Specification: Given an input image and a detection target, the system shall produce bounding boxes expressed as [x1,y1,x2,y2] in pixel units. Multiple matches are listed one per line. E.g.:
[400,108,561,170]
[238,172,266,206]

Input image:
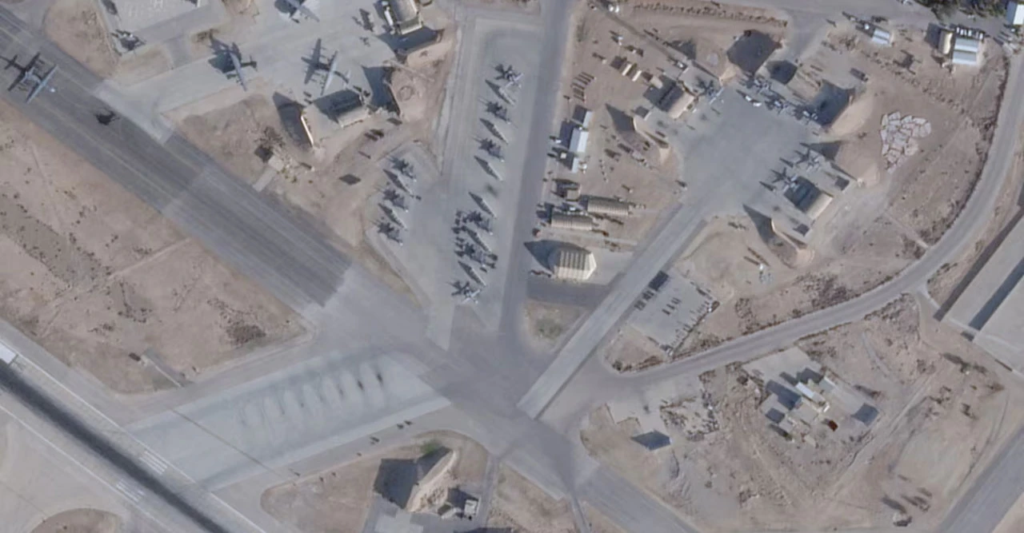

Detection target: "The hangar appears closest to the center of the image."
[549,246,596,284]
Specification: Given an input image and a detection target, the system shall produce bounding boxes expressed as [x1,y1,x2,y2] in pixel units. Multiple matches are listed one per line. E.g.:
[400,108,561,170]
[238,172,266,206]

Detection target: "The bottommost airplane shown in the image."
[463,287,481,305]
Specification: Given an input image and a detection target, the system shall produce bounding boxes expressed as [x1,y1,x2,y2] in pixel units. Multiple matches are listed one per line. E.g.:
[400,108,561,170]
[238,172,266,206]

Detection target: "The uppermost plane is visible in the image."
[285,0,319,22]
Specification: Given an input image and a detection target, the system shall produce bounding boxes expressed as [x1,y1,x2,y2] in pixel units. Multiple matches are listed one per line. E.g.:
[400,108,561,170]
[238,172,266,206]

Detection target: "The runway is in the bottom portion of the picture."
[0,338,265,533]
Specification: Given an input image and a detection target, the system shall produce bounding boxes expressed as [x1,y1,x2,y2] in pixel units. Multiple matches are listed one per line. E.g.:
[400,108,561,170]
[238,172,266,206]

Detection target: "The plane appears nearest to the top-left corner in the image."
[19,63,58,103]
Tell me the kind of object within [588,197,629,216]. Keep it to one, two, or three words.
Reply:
tent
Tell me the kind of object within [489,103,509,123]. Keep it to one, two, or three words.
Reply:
airplane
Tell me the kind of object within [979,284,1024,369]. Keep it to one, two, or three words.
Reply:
building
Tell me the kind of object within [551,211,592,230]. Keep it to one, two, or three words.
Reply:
tent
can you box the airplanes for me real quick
[225,48,260,94]
[707,86,725,104]
[317,49,352,96]
[489,103,509,123]
[285,0,319,22]
[804,110,822,128]
[472,213,491,233]
[394,161,414,180]
[386,192,406,211]
[504,70,522,88]
[782,174,801,192]
[381,225,401,244]
[19,63,58,103]
[463,287,481,305]
[482,141,502,160]
[463,246,484,267]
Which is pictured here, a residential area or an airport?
airport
